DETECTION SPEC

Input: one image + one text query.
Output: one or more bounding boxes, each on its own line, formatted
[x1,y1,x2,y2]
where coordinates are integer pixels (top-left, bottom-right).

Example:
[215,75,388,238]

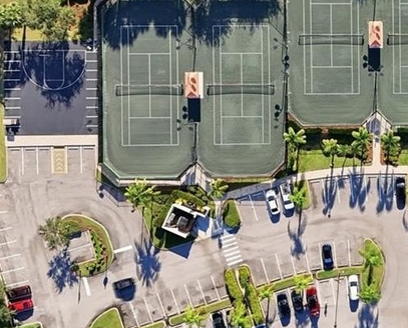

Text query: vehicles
[7,285,33,298]
[322,244,333,269]
[279,181,295,209]
[9,298,34,312]
[276,289,289,317]
[347,275,358,299]
[213,312,226,328]
[306,286,319,315]
[266,190,279,215]
[112,276,136,289]
[291,286,304,312]
[395,177,406,202]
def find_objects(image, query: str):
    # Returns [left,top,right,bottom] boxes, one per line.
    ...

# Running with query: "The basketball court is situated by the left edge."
[4,41,94,135]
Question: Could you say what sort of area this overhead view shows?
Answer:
sports ground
